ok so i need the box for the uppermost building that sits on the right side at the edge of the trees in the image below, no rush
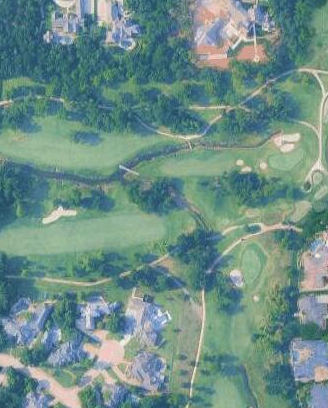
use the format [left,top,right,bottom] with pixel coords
[197,0,276,51]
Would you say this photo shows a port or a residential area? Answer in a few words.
residential area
